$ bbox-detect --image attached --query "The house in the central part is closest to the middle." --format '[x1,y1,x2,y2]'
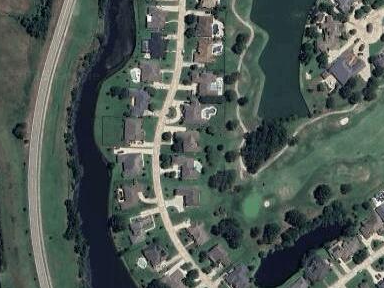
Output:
[175,133,202,152]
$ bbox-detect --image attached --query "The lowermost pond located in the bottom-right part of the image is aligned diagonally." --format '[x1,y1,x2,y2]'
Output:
[255,222,347,288]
